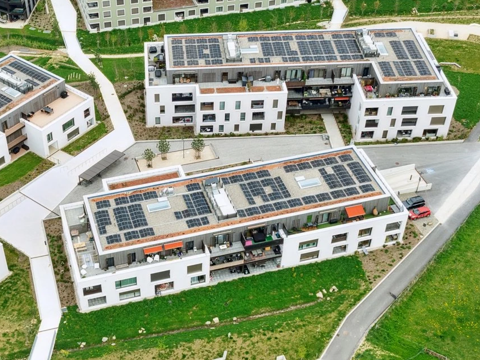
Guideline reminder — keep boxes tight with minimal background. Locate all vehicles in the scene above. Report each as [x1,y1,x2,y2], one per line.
[408,204,433,220]
[401,193,428,211]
